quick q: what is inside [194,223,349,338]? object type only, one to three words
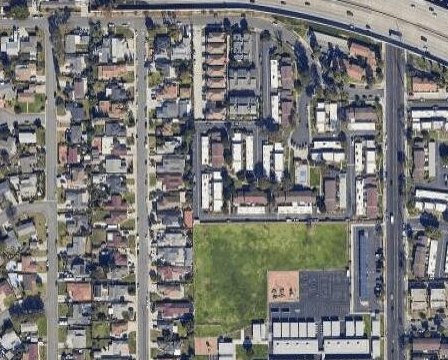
sports field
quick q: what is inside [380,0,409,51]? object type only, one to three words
overpass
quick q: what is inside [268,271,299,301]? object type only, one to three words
playground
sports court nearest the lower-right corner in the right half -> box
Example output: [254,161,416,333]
[299,271,350,313]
